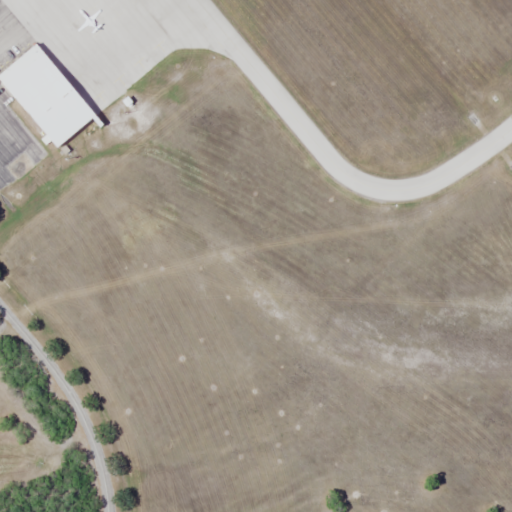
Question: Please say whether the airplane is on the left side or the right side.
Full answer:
You can find the airplane on the left side of the picture.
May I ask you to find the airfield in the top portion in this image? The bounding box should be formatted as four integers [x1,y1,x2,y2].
[0,0,512,204]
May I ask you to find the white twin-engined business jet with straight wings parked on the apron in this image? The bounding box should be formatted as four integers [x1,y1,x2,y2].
[79,10,102,33]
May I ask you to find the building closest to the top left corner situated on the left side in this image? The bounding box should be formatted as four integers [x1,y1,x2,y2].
[0,42,104,148]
